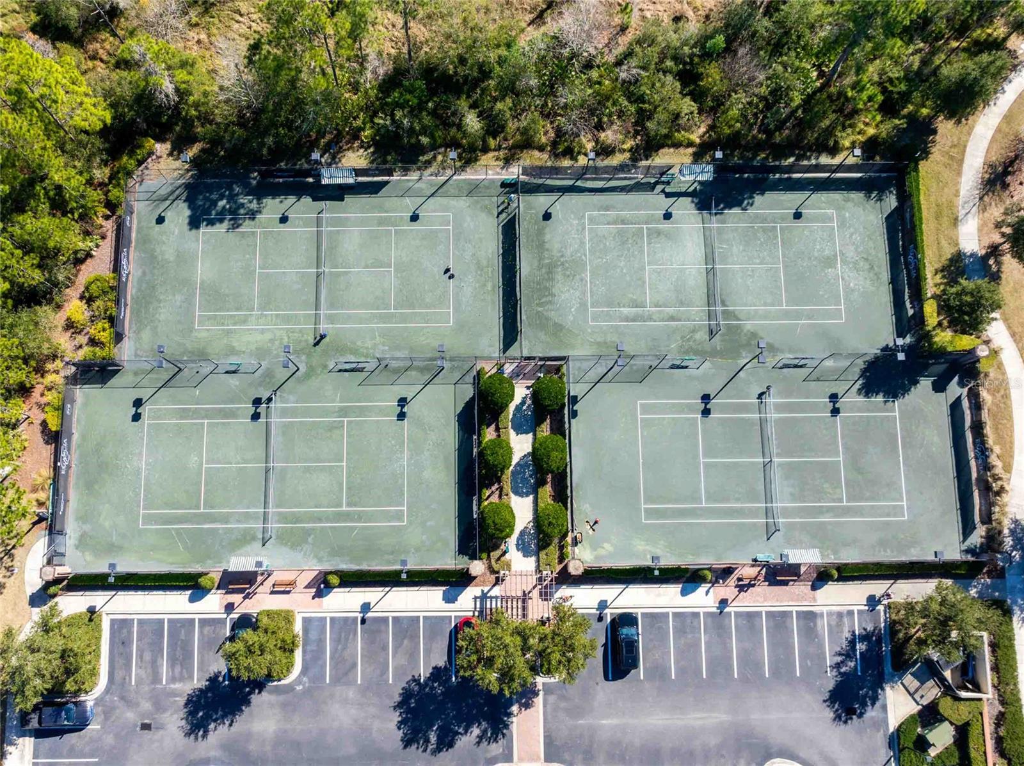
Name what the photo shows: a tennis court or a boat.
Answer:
tennis court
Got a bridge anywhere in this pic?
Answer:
No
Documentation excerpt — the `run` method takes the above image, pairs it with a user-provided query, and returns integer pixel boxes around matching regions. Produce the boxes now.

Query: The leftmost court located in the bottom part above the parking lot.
[64,364,477,571]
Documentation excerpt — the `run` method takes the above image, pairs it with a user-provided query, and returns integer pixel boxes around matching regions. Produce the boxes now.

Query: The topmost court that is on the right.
[519,175,914,363]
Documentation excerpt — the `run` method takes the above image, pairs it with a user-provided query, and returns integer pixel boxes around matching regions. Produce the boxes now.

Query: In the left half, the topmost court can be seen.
[124,178,520,368]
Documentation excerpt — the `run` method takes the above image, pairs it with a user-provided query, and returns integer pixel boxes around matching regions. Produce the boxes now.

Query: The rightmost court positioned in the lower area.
[568,359,983,564]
